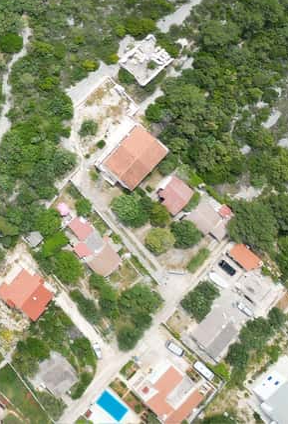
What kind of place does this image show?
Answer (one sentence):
This image shows a residential area.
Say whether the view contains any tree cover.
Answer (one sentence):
Yes, the picture does contain tree cover.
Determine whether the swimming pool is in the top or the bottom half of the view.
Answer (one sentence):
The swimming pool sits in the bottom half of the picture.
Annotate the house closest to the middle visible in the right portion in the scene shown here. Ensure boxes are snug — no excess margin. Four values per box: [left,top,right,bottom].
[156,173,193,216]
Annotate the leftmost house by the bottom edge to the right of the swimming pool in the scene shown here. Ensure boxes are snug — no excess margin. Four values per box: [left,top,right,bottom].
[144,362,206,424]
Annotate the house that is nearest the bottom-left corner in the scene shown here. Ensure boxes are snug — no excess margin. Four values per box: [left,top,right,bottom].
[38,347,77,397]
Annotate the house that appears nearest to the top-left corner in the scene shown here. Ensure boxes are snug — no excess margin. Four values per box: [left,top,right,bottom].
[92,120,169,190]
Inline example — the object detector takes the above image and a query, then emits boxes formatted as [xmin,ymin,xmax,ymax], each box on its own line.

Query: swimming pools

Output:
[93,387,129,424]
